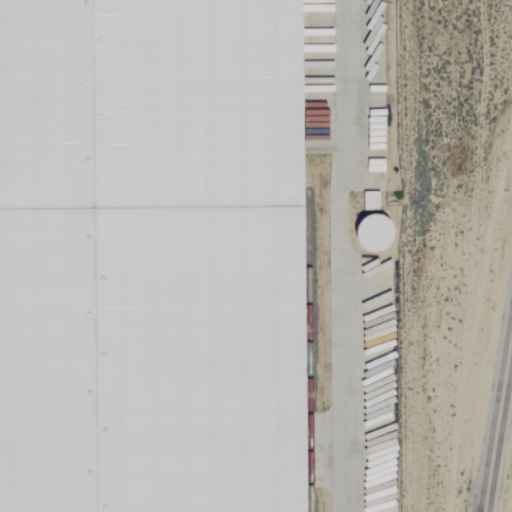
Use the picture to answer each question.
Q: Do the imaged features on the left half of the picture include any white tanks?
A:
No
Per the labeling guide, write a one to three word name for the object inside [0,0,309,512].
warehouse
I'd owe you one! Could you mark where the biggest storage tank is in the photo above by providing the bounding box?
[357,214,396,253]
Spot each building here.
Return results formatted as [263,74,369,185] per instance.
[366,192,382,209]
[0,0,309,512]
